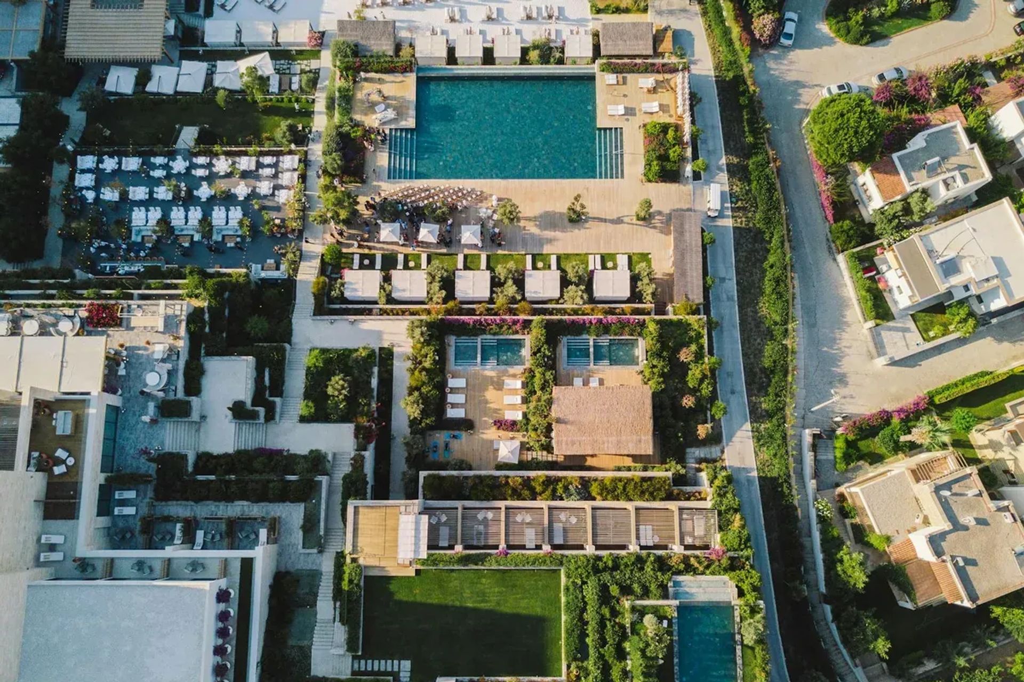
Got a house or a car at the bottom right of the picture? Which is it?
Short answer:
house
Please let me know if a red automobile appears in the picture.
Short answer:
No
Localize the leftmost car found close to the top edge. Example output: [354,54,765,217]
[778,13,796,46]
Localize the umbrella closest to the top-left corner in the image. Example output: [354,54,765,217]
[104,66,140,108]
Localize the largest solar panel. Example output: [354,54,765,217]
[938,257,963,282]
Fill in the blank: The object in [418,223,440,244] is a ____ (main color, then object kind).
white umbrella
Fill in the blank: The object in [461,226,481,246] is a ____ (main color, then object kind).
white umbrella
